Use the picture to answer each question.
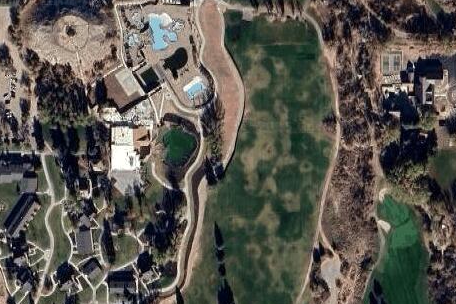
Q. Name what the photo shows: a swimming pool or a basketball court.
swimming pool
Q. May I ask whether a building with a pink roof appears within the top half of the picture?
No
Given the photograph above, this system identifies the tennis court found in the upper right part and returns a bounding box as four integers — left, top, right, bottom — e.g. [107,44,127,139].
[381,51,402,76]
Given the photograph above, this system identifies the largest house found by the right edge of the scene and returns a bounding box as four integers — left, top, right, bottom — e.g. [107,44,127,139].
[399,58,442,108]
